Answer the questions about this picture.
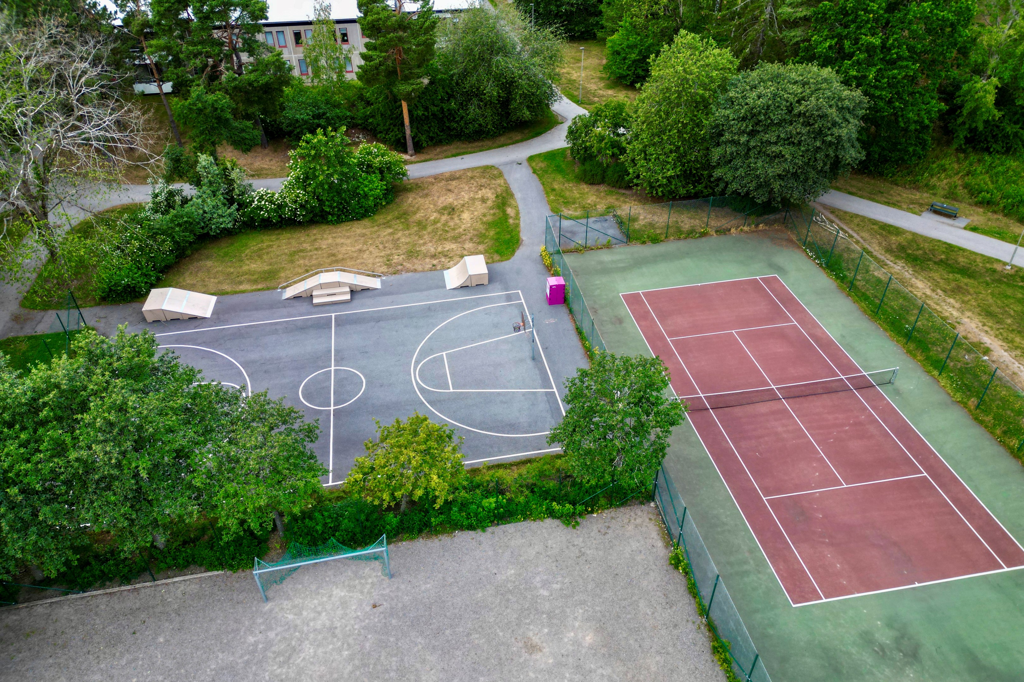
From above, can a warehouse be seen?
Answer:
No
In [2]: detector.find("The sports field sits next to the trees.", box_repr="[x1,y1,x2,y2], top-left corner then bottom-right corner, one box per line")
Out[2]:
[0,508,724,682]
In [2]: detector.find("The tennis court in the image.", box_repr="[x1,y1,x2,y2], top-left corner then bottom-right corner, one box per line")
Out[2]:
[621,276,1024,605]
